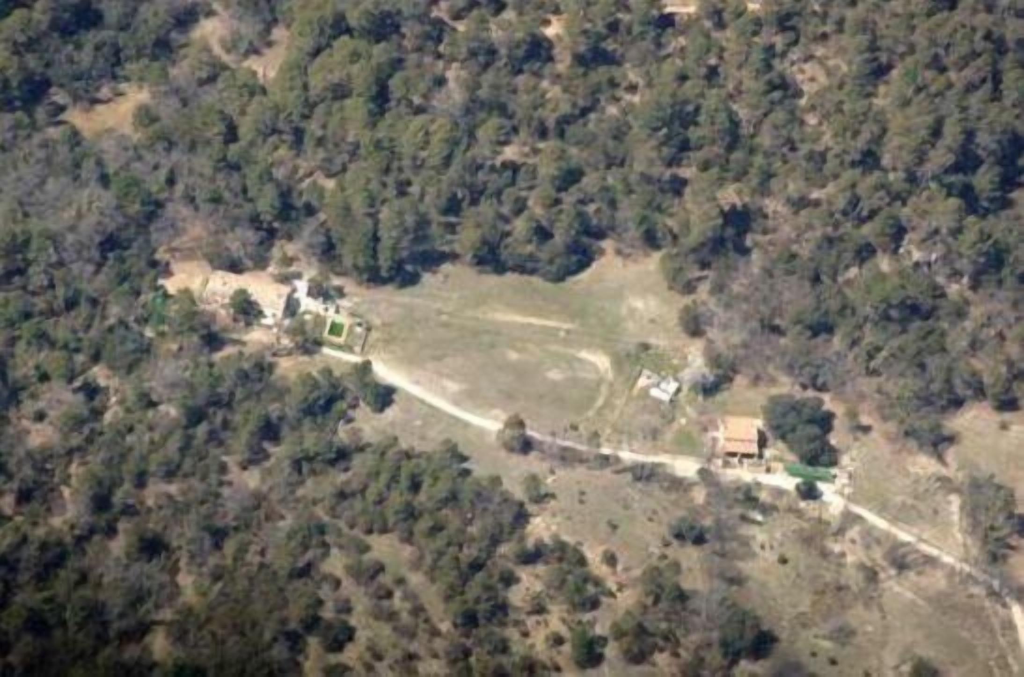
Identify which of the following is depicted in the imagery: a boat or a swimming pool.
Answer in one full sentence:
The one in the frame is a swimming pool.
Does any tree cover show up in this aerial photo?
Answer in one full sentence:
Yes, there's tree cover in this view.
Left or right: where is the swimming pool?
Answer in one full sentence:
You can find the swimming pool on the left side of the picture.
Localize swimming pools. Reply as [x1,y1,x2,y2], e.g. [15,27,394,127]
[324,314,351,345]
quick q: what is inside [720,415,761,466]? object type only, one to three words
house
